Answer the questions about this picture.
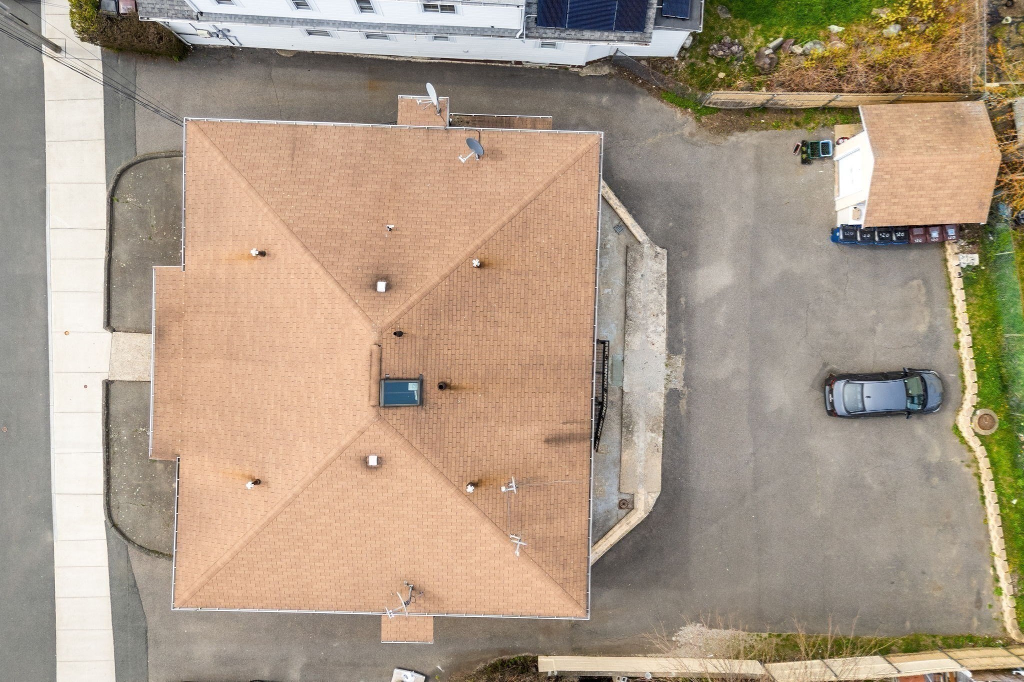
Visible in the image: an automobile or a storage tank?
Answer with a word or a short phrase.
automobile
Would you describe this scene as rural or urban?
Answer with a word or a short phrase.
urban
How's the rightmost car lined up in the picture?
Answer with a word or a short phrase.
from left to right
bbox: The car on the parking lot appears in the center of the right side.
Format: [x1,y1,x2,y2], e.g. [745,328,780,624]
[823,365,943,422]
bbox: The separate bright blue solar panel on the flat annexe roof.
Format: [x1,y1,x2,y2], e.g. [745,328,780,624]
[662,0,690,20]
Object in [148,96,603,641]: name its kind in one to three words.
house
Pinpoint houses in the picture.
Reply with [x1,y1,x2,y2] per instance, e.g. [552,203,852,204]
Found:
[148,96,603,641]
[138,0,707,69]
